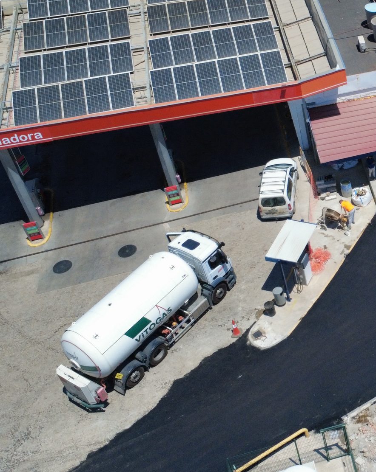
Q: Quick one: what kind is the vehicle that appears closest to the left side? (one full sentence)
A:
The vehicle that appears closest to the left side can be classified as a truck.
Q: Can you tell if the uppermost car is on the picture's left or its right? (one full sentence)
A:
The uppermost car is on the right side of the image.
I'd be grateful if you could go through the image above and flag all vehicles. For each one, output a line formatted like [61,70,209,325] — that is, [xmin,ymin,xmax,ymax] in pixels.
[256,159,298,214]
[54,231,237,417]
